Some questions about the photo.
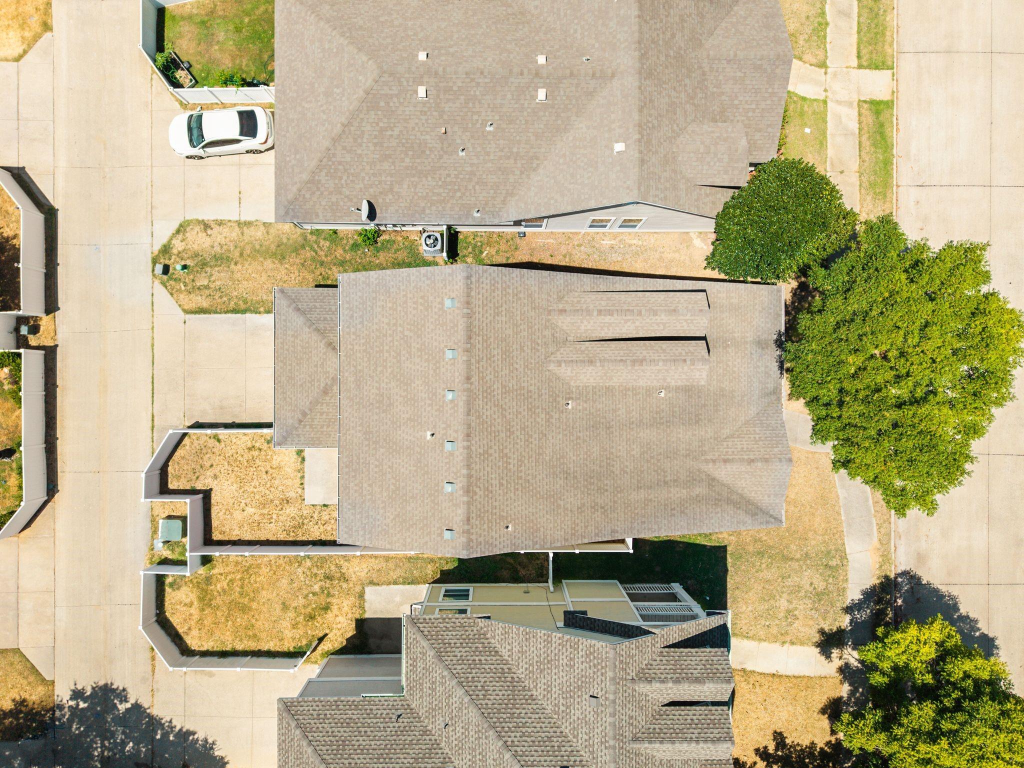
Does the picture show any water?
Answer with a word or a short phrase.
No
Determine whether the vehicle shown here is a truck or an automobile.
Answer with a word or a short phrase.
automobile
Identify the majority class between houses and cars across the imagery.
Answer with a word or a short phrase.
houses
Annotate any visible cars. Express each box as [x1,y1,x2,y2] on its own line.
[168,109,274,162]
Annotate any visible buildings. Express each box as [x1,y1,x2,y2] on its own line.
[273,264,794,559]
[275,578,735,768]
[273,0,794,233]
